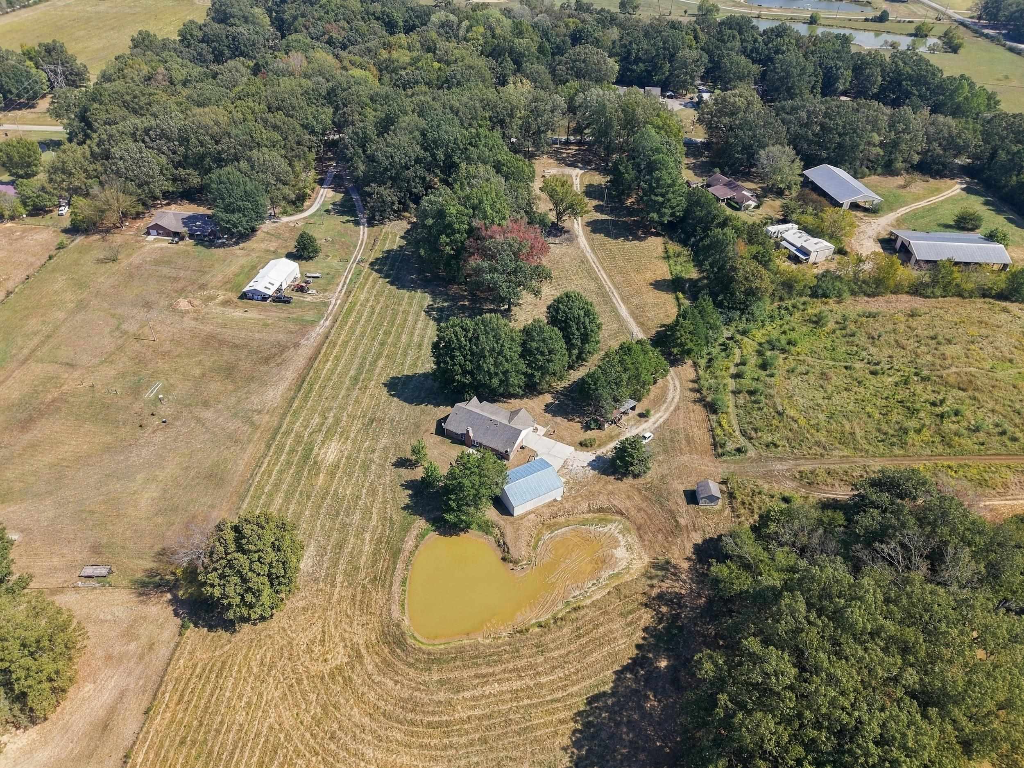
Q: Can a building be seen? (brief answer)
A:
Yes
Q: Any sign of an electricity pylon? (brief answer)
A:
Yes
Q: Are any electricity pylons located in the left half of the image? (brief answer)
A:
Yes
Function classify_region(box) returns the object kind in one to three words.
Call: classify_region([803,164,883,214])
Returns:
barn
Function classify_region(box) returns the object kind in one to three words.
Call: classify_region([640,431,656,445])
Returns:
car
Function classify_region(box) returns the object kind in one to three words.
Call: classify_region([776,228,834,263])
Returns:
shed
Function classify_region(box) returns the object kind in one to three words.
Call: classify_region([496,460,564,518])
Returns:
building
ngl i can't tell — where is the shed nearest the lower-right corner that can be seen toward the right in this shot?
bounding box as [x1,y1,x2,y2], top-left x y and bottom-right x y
[696,480,721,505]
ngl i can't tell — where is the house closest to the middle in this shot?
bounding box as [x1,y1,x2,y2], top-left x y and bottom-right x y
[443,394,540,460]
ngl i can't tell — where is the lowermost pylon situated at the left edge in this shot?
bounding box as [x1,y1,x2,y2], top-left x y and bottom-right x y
[33,50,65,90]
